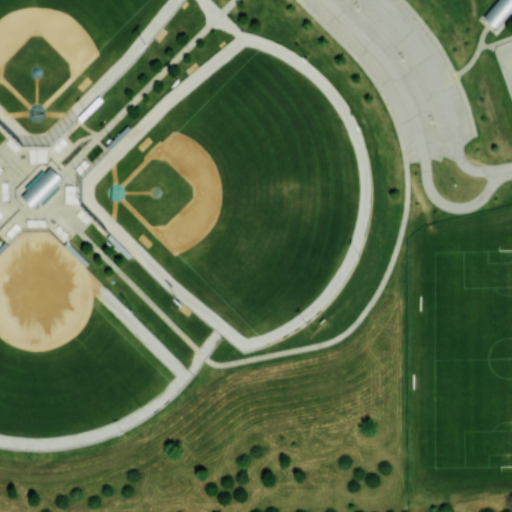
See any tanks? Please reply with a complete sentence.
No, the picture doesn't show any tank.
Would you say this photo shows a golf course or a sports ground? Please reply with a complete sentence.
This looks like a sports ground.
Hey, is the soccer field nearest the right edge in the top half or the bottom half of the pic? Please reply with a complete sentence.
Seen from above, the soccer field nearest the right edge lies in the bottom half of the view.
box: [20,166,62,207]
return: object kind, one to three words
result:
building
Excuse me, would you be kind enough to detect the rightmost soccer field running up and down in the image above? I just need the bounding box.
[428,246,512,474]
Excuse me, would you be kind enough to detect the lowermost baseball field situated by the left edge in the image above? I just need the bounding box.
[0,232,194,452]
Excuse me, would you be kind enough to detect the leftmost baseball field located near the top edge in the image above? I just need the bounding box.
[0,0,186,146]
